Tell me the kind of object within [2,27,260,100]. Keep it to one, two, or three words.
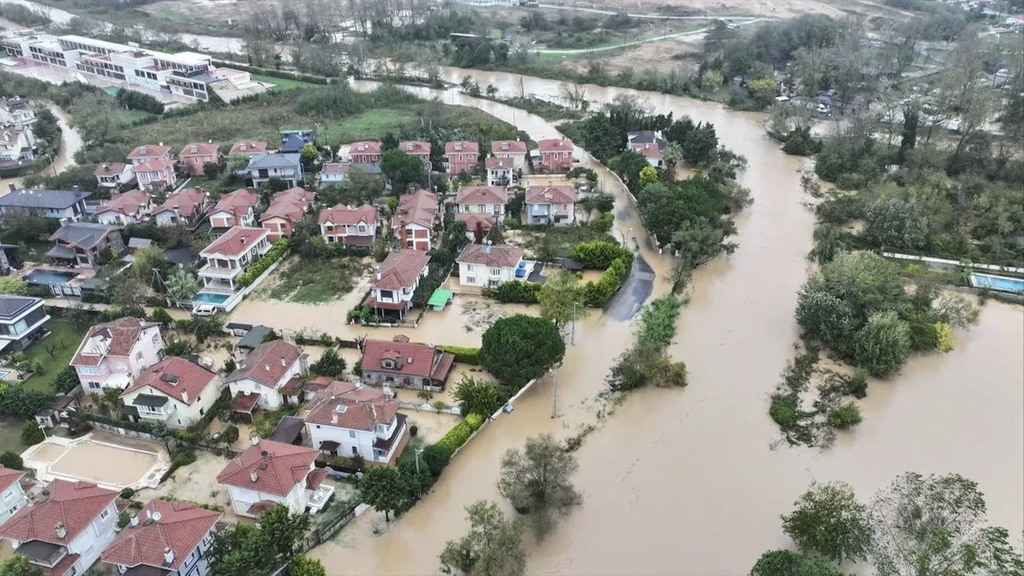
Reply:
building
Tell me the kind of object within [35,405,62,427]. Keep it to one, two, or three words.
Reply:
shed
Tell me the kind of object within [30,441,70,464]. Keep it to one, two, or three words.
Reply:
swimming pool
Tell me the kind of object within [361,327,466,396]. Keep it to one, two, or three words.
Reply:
house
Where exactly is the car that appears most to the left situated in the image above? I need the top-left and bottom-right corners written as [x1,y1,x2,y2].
[190,302,217,314]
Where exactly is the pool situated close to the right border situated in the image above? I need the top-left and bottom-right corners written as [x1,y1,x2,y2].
[972,274,1024,296]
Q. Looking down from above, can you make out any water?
Yes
